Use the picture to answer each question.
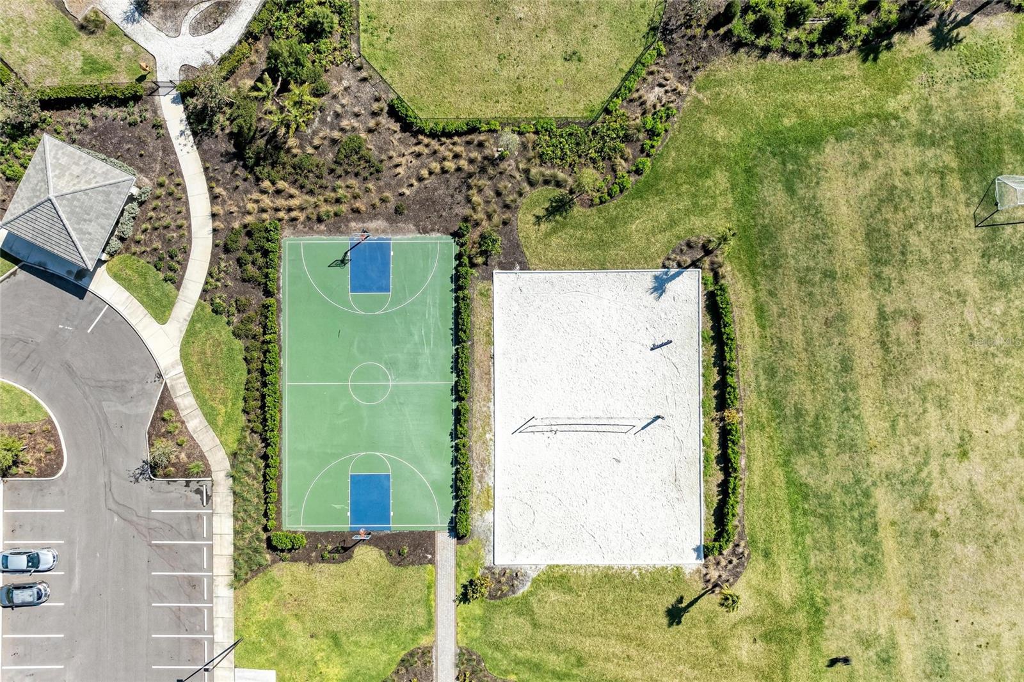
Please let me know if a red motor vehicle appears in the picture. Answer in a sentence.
No, the frame has no red motor vehicle in it.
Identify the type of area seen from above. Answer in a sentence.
This image shows a sports ground.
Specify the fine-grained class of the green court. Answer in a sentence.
The green court is a basketball court.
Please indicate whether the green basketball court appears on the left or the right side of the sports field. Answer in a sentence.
From the viewer's perspective, the green basketball court falls to the left of the sports field.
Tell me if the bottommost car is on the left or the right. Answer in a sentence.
The bottommost car appears in the left half of the scene.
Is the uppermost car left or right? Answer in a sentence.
The uppermost car is on the left side of the image.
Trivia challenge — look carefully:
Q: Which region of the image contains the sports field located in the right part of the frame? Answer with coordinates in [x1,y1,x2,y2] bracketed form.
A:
[456,11,1024,682]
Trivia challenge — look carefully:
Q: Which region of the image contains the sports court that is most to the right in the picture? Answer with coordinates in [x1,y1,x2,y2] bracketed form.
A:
[493,268,704,567]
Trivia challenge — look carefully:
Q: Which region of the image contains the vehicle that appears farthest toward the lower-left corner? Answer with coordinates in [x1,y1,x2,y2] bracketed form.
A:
[0,580,52,608]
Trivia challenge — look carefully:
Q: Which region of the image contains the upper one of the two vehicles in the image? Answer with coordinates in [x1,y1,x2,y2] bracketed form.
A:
[0,547,59,575]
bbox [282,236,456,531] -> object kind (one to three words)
basketball court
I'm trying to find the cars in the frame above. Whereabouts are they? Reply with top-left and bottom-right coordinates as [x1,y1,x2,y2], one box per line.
[0,580,52,608]
[0,547,59,575]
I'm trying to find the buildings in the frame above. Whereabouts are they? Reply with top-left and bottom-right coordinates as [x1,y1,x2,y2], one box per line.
[0,132,140,269]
